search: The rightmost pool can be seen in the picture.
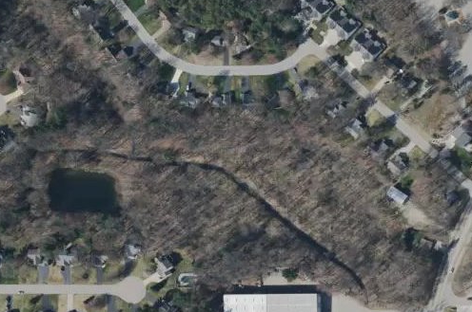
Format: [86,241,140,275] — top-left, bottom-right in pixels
[179,273,196,286]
